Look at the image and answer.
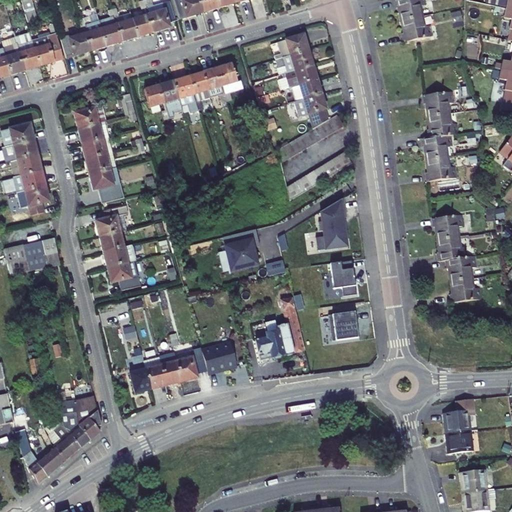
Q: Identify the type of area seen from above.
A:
residential area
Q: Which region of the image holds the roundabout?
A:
bottom right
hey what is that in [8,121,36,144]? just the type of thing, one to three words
house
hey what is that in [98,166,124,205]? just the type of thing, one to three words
building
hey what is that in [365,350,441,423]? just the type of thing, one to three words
roundabout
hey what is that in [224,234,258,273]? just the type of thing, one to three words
house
